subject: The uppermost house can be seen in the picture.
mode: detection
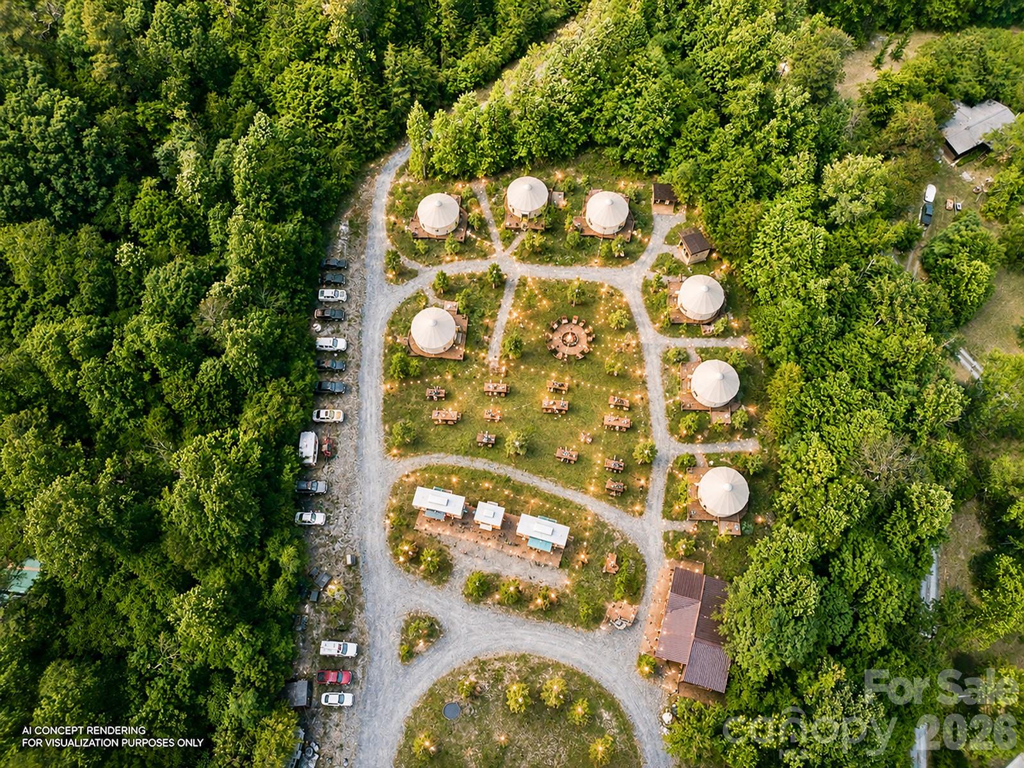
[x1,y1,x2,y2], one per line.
[945,99,1015,162]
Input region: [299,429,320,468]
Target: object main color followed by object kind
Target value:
white camper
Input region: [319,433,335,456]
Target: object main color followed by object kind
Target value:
red work vehicle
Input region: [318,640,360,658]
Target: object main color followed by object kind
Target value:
white vehicle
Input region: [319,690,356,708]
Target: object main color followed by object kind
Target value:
white car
